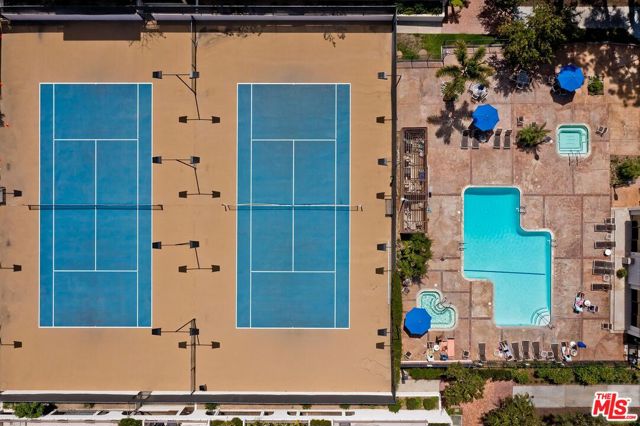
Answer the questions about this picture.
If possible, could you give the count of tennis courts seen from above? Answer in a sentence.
In total, 2 tennis courts can be seen.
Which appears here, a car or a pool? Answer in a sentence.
I can see a pool in this picture.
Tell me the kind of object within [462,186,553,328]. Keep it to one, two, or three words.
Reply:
swimming pool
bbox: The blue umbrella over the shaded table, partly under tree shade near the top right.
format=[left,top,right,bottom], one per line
[555,66,583,93]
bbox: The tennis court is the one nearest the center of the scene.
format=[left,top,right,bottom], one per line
[237,82,350,327]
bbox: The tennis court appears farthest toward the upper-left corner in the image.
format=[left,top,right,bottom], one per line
[39,82,152,327]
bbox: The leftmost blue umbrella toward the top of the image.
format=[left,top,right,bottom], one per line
[470,104,498,133]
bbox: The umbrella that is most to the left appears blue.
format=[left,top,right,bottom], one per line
[404,307,430,333]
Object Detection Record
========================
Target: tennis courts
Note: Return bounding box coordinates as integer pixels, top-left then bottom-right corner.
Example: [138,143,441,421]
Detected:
[237,82,350,327]
[39,82,152,327]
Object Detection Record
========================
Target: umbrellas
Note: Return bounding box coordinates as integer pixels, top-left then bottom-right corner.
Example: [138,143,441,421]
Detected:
[470,104,498,133]
[404,307,430,333]
[555,66,583,93]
